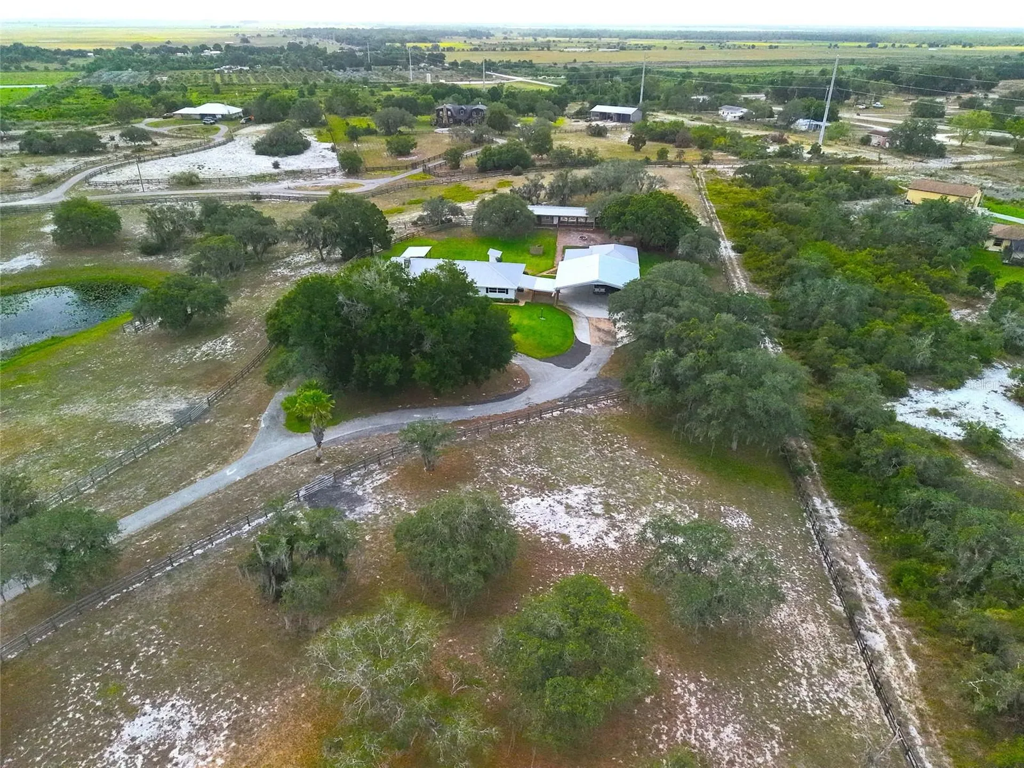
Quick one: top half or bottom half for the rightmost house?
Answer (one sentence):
Seen from above, the rightmost house lies in the top half of the view.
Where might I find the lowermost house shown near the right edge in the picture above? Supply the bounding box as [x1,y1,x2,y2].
[984,225,1024,256]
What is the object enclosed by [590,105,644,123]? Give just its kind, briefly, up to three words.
shed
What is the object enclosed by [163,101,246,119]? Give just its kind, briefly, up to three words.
house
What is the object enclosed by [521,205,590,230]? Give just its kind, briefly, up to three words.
building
